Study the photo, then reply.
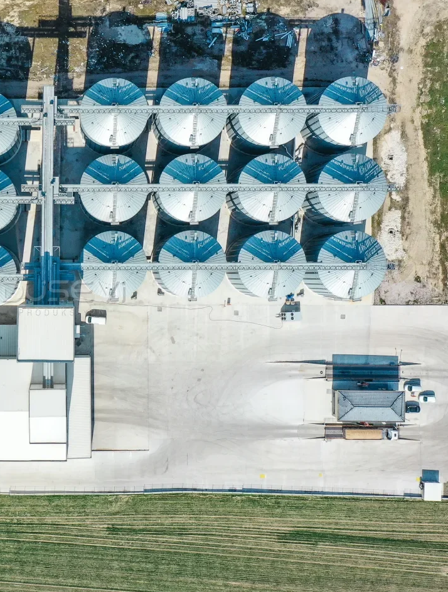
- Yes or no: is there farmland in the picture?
Yes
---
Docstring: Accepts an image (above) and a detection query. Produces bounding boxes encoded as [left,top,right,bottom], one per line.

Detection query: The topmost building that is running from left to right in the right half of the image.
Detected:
[333,390,407,423]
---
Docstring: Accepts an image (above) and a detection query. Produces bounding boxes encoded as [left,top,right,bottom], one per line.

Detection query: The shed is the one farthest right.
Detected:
[421,481,442,500]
